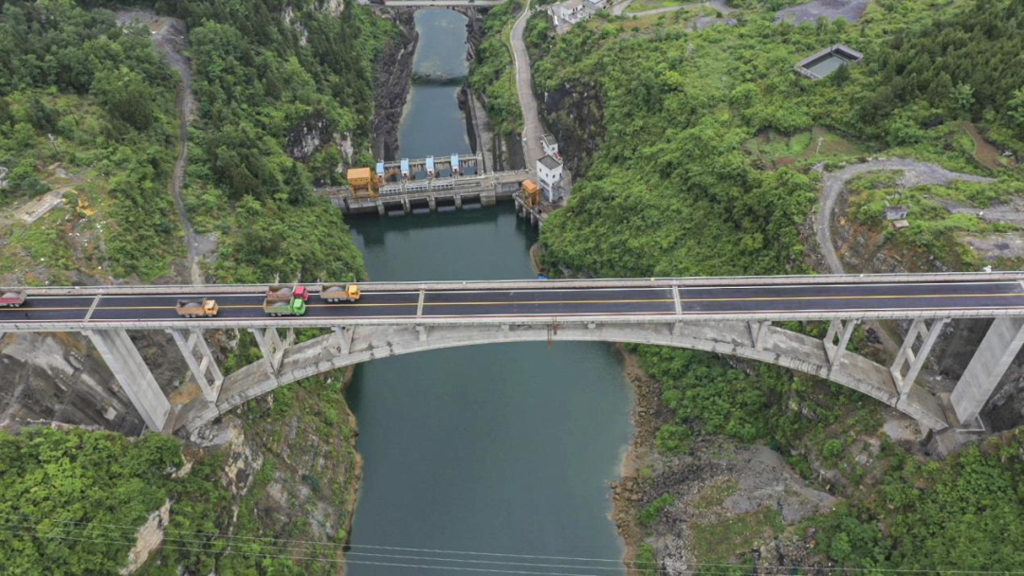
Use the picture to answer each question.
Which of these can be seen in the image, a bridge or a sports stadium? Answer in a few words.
bridge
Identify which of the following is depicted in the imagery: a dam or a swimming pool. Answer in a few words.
dam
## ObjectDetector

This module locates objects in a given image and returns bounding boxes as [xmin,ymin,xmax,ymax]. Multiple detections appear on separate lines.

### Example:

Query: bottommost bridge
[0,276,1024,457]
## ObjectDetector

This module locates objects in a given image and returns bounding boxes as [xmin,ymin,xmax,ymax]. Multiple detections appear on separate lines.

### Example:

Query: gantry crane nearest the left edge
[346,169,403,200]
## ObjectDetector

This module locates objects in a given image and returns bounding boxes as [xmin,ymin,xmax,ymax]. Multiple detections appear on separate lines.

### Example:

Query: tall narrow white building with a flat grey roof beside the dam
[536,155,567,202]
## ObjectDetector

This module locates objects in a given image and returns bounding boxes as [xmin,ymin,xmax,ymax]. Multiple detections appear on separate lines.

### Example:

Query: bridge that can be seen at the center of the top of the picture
[389,1,508,28]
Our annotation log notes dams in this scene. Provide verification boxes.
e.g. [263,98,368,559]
[330,150,556,235]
